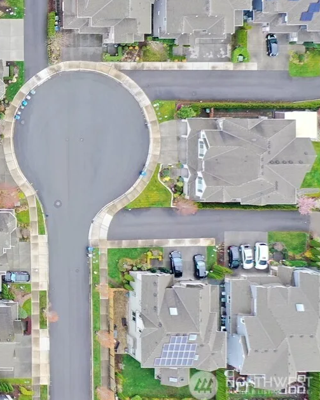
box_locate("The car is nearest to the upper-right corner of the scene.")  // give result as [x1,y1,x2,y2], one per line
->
[265,33,279,56]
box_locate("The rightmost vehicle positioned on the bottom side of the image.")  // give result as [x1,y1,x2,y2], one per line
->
[255,241,268,268]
